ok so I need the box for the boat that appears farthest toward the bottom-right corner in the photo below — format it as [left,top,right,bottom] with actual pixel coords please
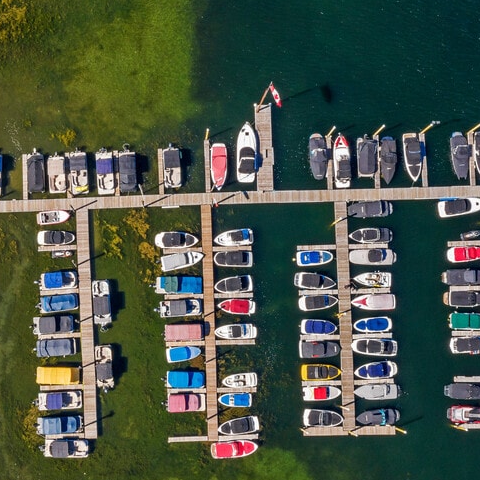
[443,405,480,424]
